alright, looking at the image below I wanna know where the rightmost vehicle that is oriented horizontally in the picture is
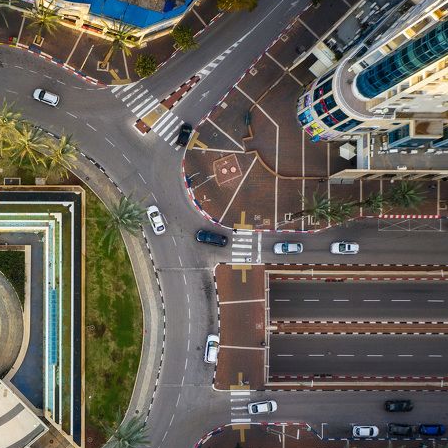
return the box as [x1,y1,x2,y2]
[421,425,447,437]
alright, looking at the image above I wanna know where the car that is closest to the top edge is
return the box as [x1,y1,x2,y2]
[31,86,62,106]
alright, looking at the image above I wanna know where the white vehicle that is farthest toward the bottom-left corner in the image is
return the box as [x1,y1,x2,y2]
[206,336,222,362]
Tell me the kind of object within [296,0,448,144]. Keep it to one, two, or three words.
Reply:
building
